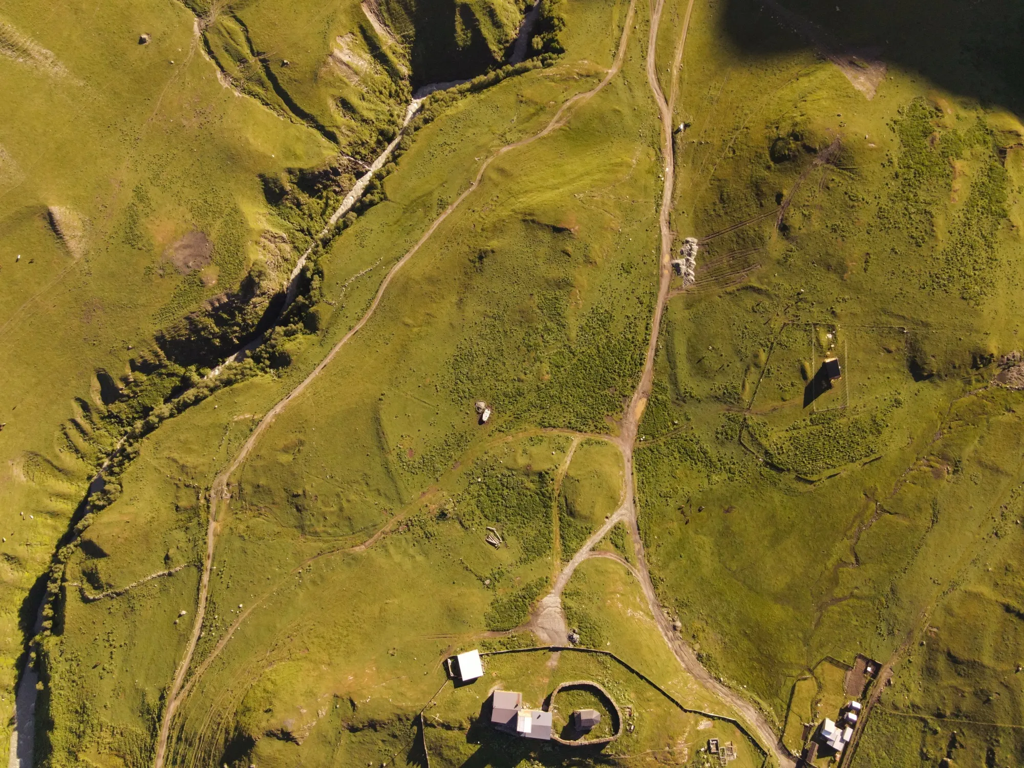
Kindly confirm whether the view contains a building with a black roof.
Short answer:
Yes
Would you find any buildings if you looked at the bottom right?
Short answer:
Yes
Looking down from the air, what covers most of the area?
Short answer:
grass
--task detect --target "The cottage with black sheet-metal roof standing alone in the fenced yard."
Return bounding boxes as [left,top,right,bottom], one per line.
[821,358,842,382]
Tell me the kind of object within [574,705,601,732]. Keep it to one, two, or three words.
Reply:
building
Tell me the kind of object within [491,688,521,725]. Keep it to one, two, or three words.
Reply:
house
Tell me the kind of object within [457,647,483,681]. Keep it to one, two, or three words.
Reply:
barn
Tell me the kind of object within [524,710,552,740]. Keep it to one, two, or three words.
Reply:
house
